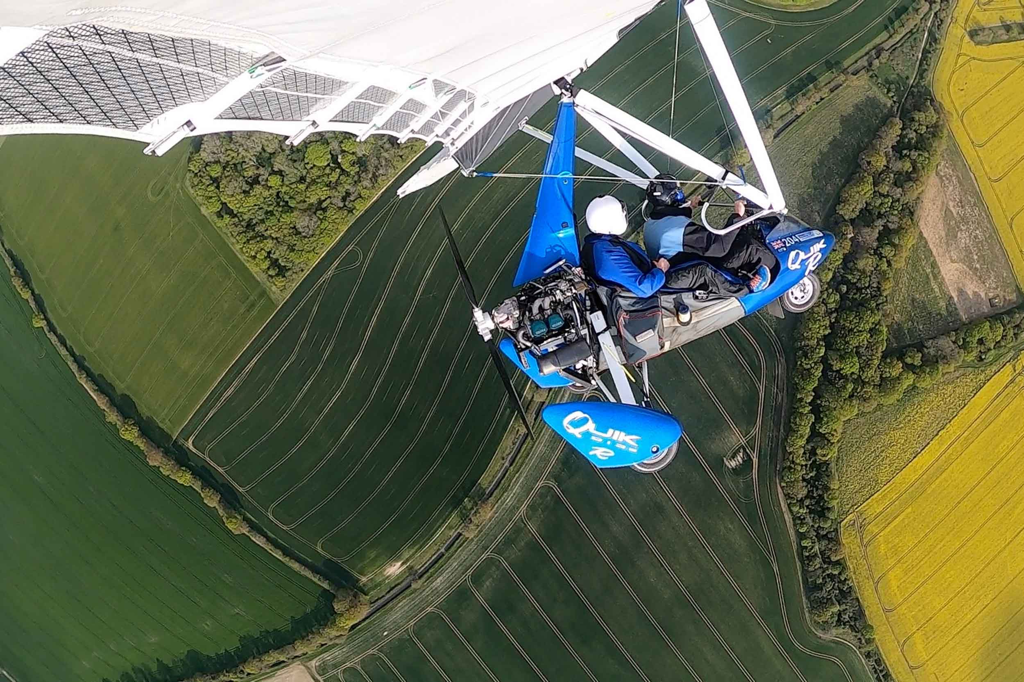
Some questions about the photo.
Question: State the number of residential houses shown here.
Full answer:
The picture shows no residential houses.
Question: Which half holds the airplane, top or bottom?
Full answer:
It is in the top half that the airplane appears.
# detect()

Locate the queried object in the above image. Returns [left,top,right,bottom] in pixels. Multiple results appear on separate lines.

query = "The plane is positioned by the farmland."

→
[0,0,835,472]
